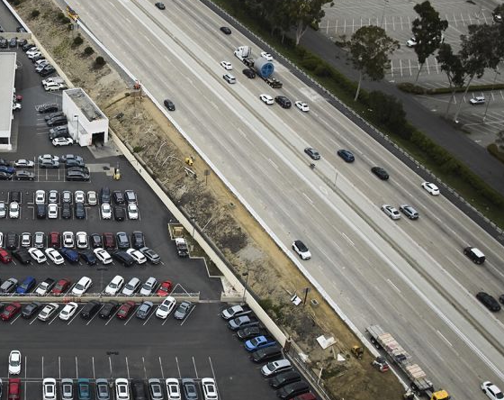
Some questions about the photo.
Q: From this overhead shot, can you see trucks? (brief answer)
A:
Yes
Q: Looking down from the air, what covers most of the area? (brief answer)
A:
paved ground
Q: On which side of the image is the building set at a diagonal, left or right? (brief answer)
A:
left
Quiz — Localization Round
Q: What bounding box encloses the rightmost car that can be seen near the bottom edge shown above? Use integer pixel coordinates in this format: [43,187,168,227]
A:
[478,382,504,400]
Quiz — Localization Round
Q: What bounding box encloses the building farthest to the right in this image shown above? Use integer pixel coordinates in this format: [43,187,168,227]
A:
[63,88,109,145]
